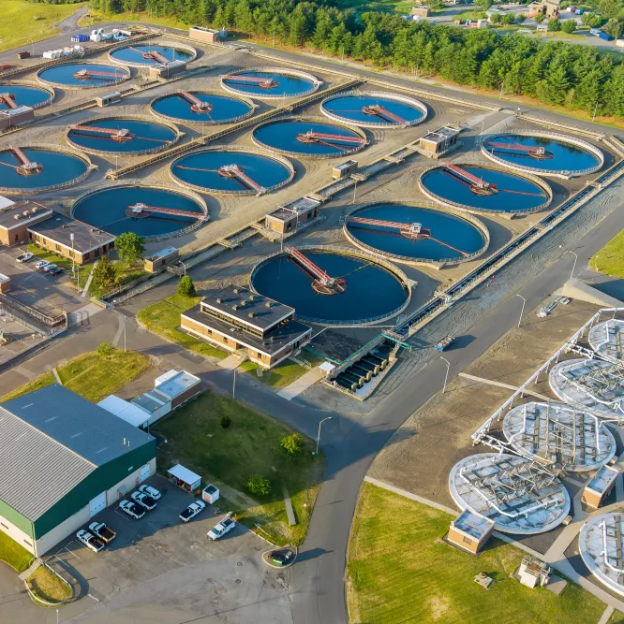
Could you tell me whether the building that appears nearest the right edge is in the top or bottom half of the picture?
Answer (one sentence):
The bottom half of the photo is where the building that appears nearest the right edge is.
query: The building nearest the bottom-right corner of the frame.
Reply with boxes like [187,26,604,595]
[580,467,619,509]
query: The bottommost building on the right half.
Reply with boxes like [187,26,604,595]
[447,508,497,554]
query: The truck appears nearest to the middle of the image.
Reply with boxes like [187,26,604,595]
[434,328,460,352]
